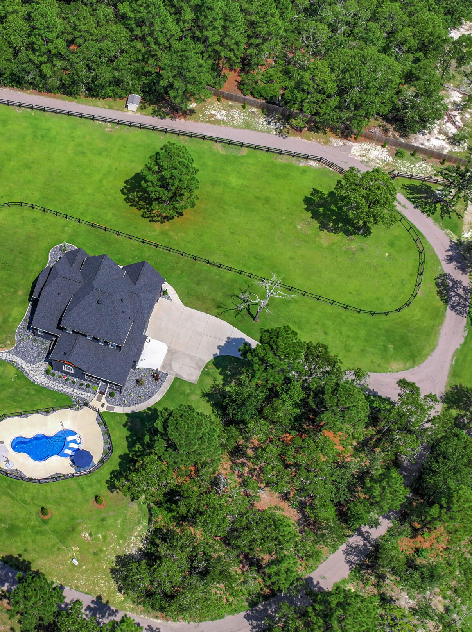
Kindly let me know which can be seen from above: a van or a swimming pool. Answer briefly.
swimming pool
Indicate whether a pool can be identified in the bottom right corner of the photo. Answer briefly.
No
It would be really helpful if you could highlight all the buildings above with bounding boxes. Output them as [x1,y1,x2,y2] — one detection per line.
[126,89,141,112]
[31,247,166,395]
